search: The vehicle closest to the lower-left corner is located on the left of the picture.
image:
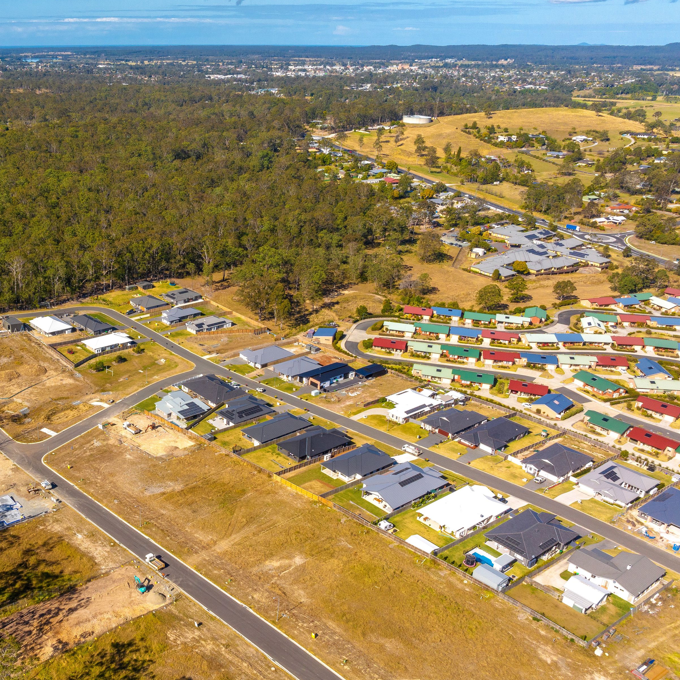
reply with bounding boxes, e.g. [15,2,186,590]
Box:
[132,576,147,596]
